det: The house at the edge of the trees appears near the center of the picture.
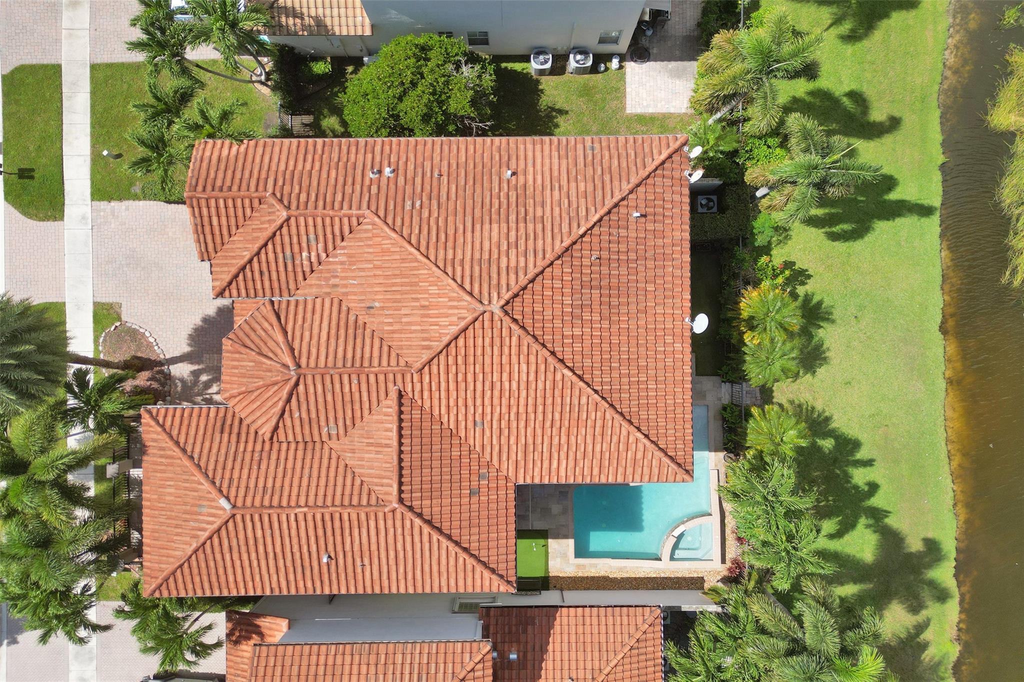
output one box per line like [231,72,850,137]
[137,131,697,601]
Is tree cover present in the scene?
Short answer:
Yes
